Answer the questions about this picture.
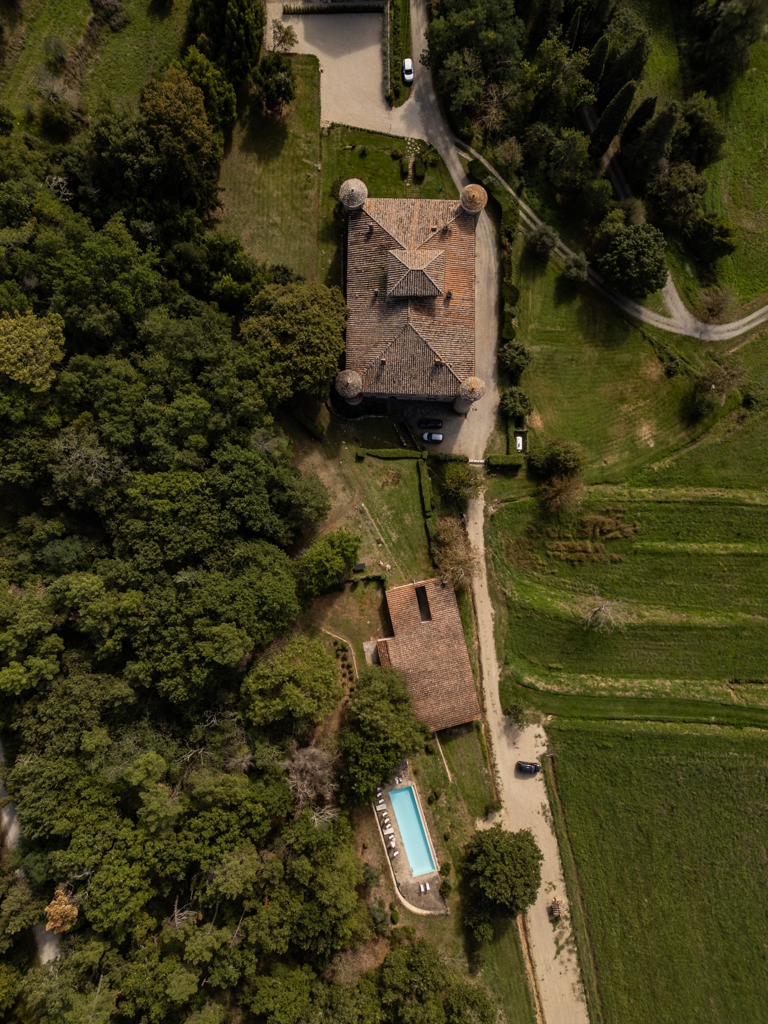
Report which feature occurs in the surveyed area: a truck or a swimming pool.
swimming pool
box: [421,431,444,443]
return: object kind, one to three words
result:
vehicle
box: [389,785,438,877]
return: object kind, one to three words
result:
swimming pool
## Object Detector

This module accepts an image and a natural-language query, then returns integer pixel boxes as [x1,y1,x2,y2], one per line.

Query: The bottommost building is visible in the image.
[376,577,482,731]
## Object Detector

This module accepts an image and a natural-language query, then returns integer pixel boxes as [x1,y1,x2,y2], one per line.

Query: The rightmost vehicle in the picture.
[514,759,538,773]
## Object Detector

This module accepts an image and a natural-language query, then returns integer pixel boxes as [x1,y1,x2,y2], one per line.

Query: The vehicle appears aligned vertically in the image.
[402,57,414,84]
